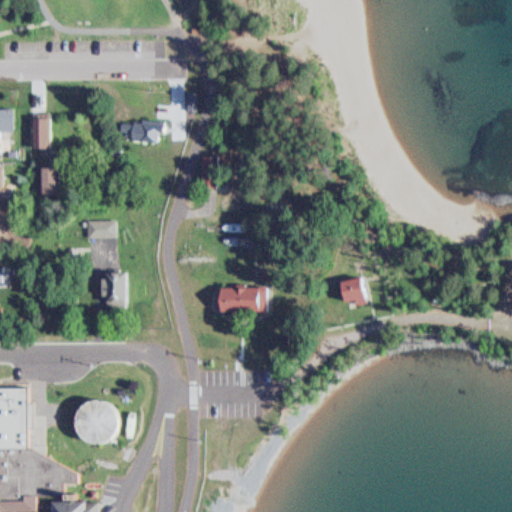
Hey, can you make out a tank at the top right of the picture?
No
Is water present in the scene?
Yes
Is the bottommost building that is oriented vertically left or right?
left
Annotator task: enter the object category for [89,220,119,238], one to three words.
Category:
house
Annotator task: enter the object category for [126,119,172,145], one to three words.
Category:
house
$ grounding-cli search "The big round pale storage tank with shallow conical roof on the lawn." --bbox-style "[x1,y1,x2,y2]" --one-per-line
[72,400,124,446]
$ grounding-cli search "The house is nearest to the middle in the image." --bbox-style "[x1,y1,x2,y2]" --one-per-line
[220,286,269,312]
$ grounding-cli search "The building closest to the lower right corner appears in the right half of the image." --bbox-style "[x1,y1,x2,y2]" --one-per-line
[340,276,370,308]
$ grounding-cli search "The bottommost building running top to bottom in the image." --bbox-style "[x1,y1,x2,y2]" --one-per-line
[0,386,32,450]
